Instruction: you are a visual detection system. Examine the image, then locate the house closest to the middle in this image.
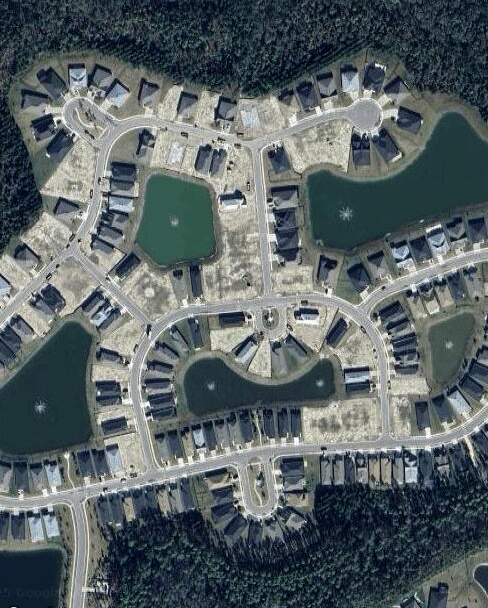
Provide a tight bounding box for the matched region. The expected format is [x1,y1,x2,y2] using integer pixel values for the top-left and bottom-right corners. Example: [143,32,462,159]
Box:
[220,312,244,327]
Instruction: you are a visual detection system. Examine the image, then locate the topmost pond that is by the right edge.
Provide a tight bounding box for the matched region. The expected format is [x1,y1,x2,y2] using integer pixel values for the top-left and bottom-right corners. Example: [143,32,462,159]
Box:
[308,113,488,248]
